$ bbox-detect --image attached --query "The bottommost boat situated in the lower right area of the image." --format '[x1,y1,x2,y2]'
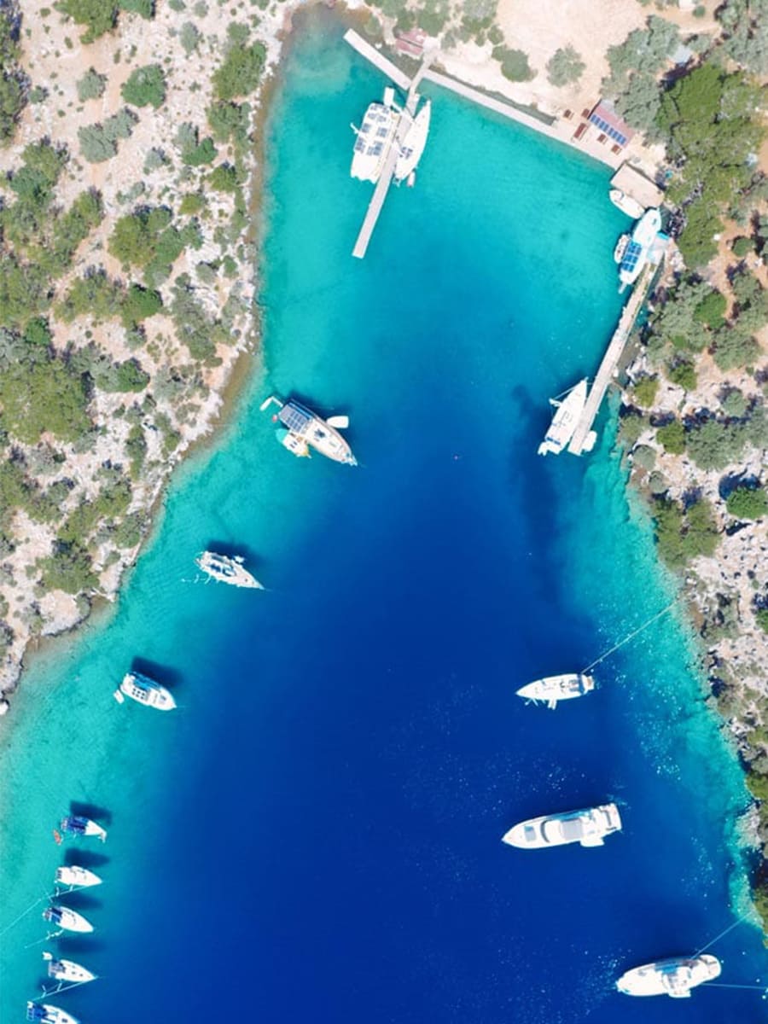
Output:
[615,952,722,1000]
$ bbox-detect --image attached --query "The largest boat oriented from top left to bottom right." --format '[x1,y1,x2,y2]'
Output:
[269,398,361,467]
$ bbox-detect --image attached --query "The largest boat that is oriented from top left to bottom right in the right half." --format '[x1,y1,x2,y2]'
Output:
[610,192,644,221]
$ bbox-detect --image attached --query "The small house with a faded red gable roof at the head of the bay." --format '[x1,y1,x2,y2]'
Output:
[396,28,428,63]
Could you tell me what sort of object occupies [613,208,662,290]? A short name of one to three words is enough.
boat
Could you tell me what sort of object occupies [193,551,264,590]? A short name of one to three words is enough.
boat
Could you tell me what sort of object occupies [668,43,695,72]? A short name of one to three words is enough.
shed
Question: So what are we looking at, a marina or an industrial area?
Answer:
marina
